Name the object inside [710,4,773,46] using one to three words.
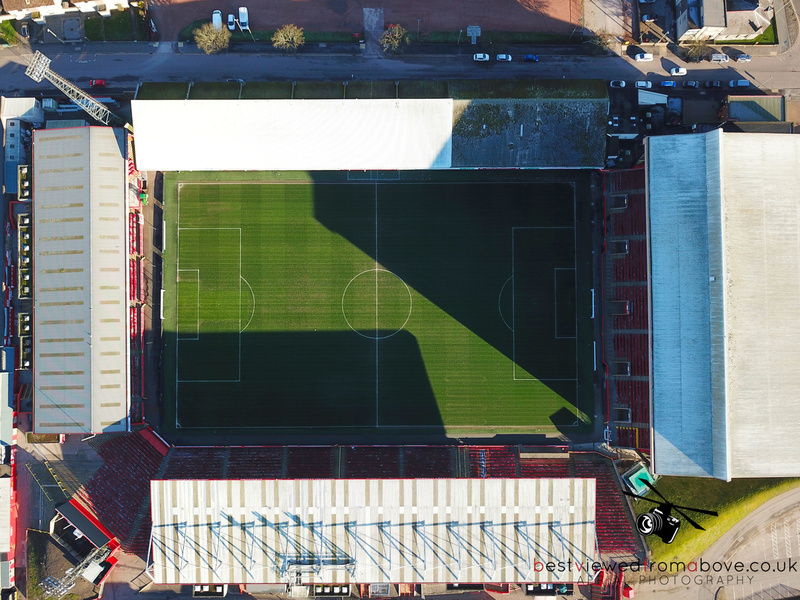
house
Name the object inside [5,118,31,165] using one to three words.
shed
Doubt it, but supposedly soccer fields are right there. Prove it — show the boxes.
[162,171,593,433]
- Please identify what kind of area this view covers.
sports ground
